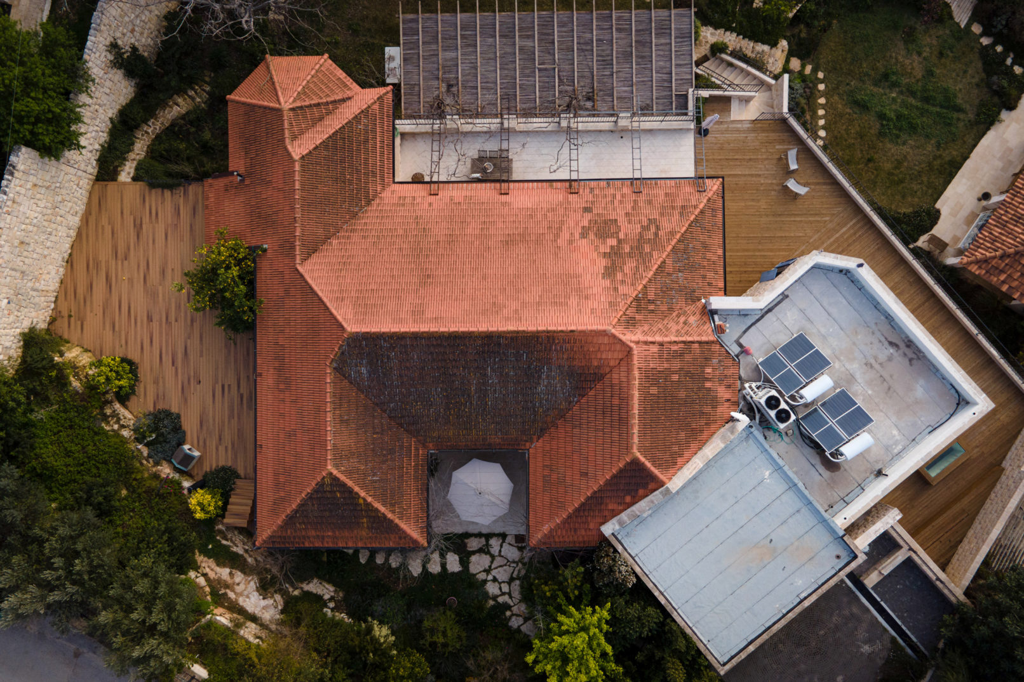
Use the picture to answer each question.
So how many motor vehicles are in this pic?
0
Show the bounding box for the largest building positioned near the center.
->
[201,53,740,550]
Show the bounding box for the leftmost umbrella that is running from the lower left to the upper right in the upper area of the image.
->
[699,114,720,138]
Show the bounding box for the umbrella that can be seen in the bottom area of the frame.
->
[448,458,513,525]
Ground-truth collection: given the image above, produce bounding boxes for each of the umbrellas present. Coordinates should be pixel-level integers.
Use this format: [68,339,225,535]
[448,458,513,525]
[699,114,720,138]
